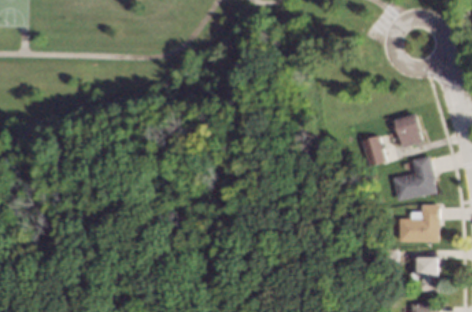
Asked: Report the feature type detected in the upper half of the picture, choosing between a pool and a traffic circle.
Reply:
traffic circle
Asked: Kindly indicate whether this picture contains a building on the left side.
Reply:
No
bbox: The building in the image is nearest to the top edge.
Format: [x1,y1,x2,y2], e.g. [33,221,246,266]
[394,114,422,146]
